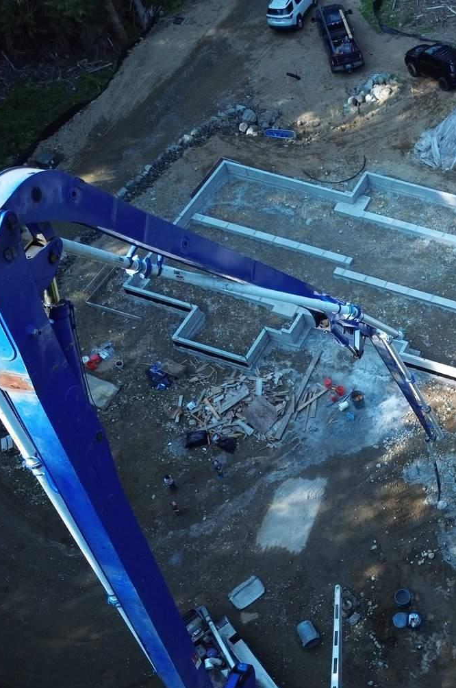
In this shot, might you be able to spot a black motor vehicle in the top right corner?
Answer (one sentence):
Yes, a black motor vehicle can be seen in the top right corner.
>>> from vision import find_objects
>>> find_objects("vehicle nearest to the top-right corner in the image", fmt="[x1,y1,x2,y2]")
[400,44,456,93]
